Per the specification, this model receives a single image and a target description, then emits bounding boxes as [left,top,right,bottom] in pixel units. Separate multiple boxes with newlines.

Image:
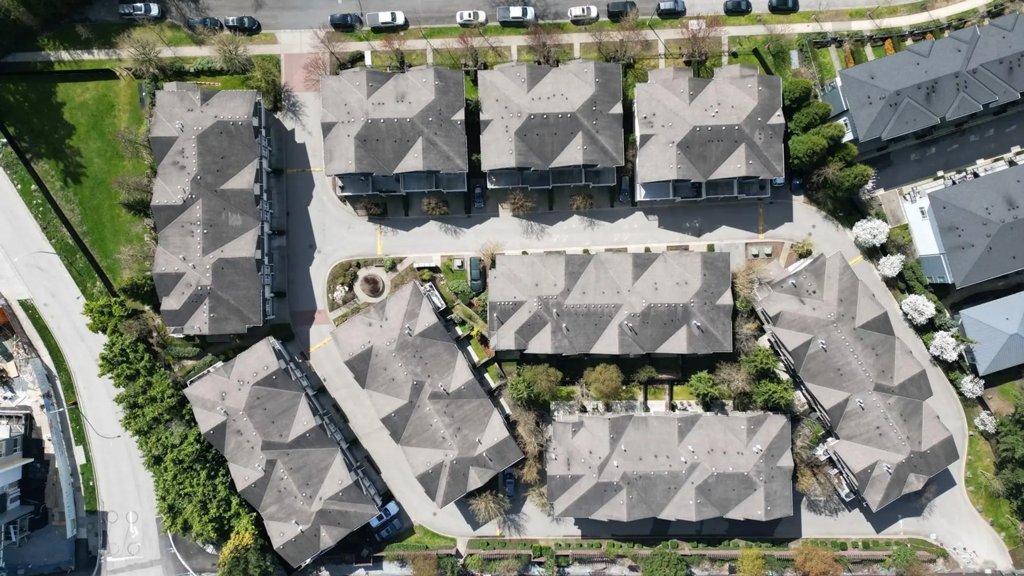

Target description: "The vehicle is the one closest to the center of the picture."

[469,258,484,292]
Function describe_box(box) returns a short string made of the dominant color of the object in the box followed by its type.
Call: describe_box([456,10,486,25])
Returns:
white car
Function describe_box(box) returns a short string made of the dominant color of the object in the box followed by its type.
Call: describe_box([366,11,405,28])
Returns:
white vehicle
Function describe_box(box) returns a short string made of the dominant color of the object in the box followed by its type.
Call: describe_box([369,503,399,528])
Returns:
blue car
